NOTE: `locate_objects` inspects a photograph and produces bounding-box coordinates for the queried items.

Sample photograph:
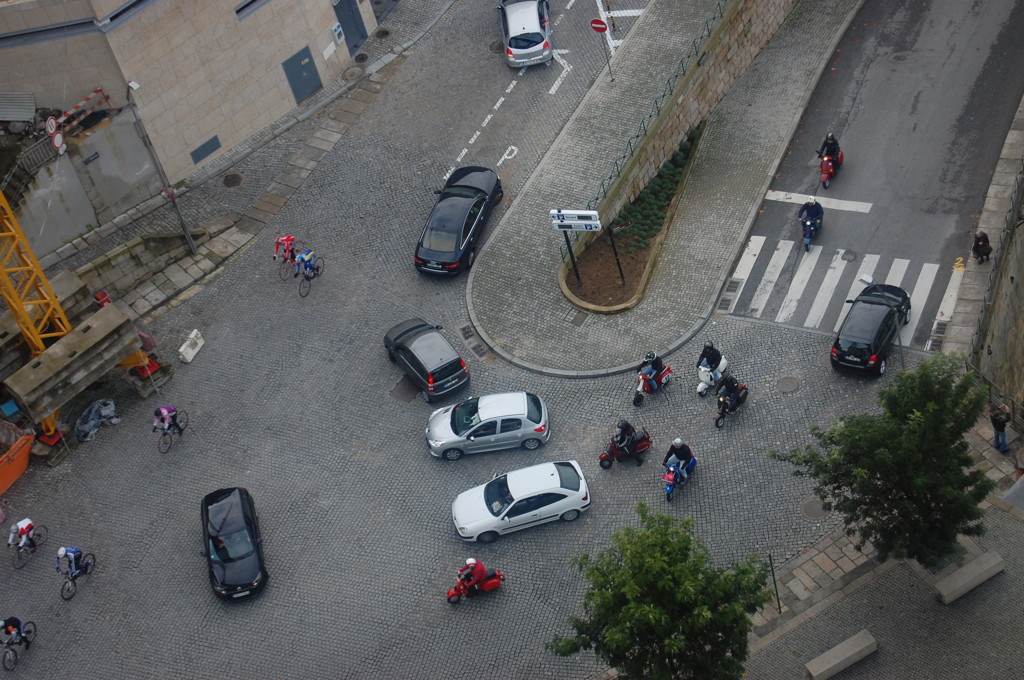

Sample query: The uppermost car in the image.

[494,0,554,63]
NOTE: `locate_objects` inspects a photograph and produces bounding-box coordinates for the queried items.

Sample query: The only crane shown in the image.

[0,179,162,446]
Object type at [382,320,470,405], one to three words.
car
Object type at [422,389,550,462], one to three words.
car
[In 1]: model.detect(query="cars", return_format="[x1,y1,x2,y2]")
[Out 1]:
[197,480,268,596]
[494,0,554,63]
[422,389,550,462]
[451,460,590,544]
[826,284,913,382]
[413,172,503,278]
[382,320,470,405]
